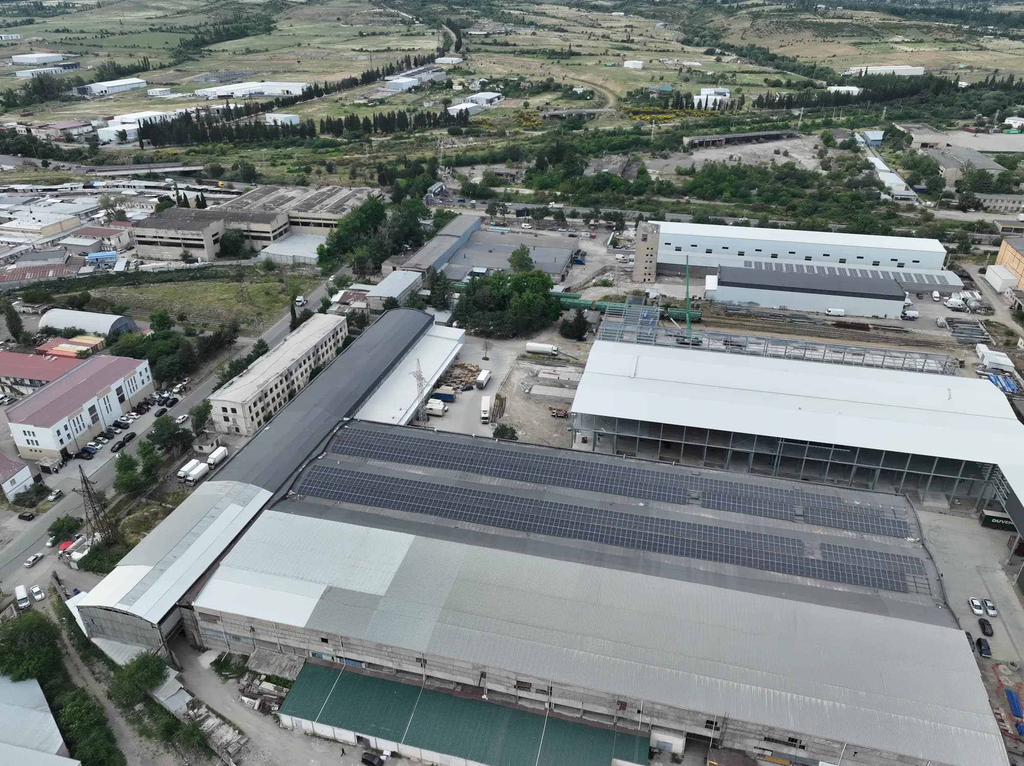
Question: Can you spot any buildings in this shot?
Yes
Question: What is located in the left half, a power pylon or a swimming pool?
power pylon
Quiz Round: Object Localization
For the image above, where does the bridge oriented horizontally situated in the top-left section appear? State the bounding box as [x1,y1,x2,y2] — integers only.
[76,163,209,185]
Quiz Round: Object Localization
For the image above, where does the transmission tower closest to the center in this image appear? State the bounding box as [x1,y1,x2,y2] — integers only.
[407,361,428,423]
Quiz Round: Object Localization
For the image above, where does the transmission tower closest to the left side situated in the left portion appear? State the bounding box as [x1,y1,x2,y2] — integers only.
[60,460,115,545]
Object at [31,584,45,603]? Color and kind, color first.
white car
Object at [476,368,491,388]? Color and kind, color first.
white vehicle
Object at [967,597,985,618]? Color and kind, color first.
white car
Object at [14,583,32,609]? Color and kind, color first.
white vehicle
